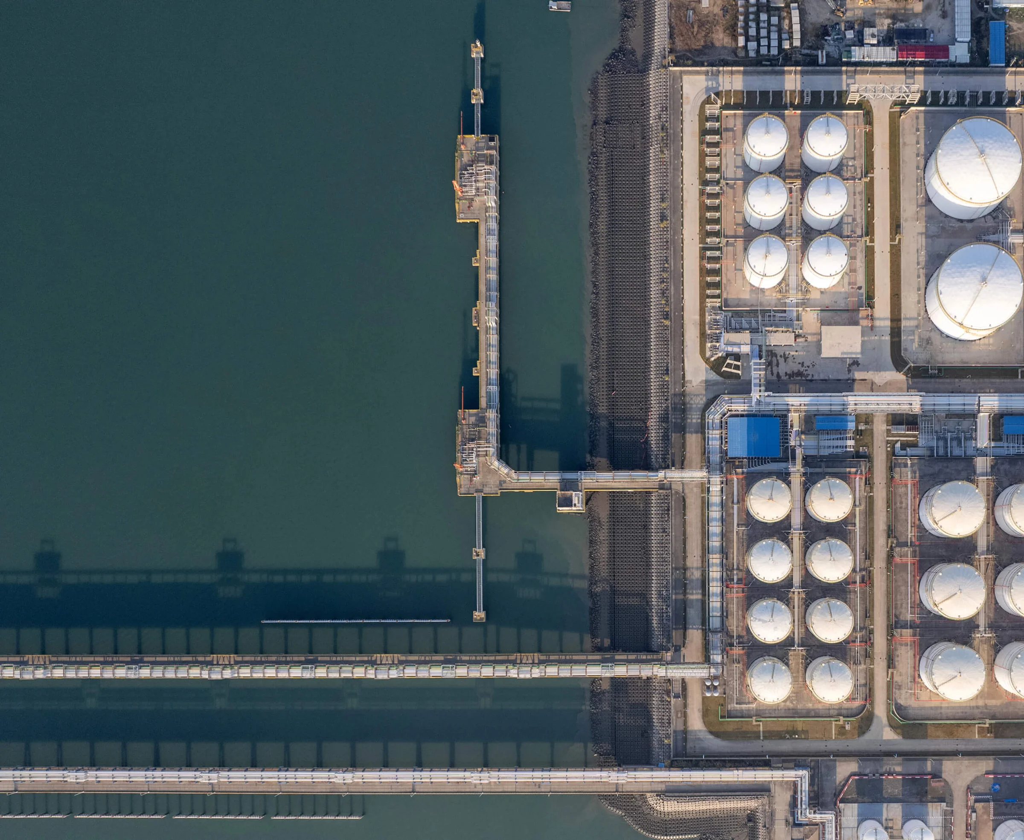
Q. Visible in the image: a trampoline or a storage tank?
storage tank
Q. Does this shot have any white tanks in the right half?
Yes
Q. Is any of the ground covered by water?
Yes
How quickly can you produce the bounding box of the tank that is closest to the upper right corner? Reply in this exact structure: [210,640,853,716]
[924,114,1024,220]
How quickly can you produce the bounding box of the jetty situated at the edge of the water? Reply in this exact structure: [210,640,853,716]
[455,134,667,496]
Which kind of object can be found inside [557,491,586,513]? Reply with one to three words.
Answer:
building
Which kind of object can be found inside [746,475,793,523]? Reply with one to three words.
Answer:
storage tank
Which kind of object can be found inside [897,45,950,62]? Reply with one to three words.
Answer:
shed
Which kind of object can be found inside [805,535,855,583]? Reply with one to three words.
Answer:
storage tank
